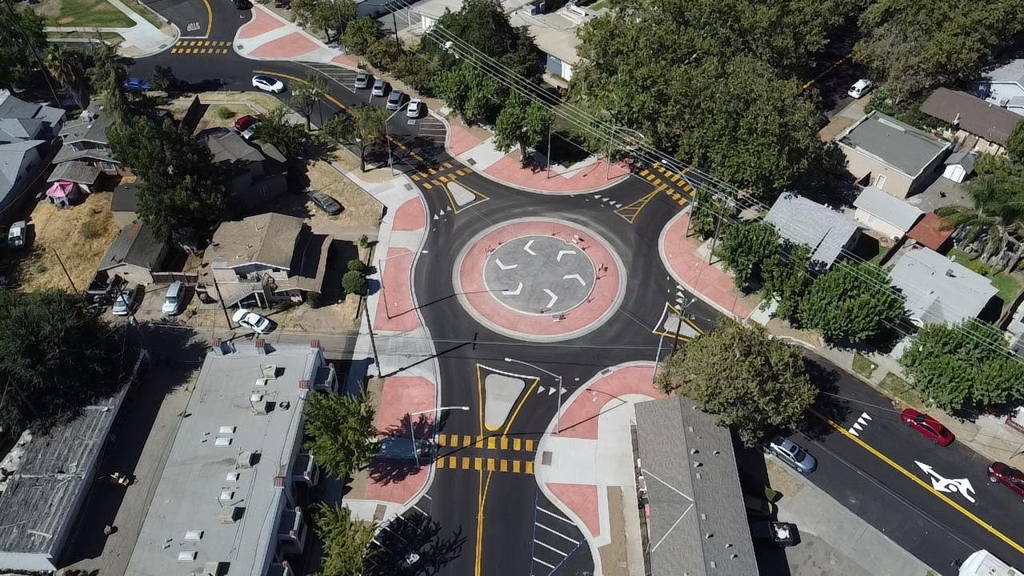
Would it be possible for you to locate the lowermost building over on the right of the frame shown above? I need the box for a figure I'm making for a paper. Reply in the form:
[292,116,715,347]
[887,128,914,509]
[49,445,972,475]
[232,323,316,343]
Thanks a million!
[634,396,762,576]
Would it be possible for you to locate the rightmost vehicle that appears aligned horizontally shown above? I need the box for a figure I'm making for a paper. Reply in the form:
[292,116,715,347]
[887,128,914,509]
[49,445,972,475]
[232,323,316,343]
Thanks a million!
[956,550,1019,576]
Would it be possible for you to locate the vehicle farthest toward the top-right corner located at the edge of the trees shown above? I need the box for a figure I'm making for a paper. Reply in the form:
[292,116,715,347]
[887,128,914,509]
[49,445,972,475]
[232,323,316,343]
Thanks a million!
[846,80,874,99]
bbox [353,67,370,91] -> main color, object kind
gray car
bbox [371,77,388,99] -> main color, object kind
gray car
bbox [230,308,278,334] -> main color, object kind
white car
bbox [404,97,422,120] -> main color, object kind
white car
